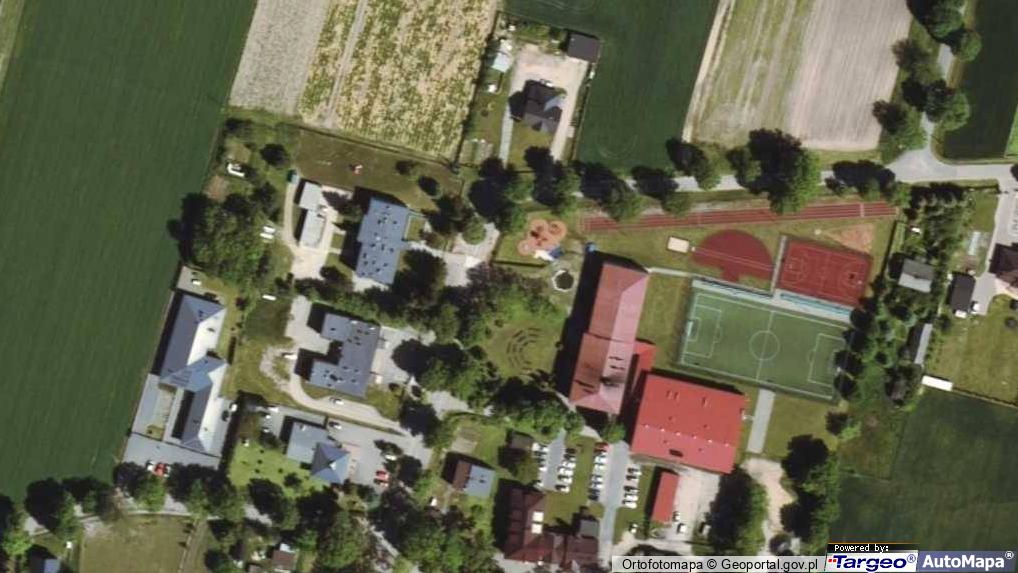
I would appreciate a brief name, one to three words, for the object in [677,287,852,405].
soccer field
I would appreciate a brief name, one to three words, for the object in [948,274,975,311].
building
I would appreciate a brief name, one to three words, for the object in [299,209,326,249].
shed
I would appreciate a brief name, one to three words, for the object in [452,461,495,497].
house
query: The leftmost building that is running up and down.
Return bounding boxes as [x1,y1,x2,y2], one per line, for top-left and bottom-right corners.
[160,295,228,454]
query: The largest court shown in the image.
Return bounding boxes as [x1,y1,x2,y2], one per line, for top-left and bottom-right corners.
[778,238,871,304]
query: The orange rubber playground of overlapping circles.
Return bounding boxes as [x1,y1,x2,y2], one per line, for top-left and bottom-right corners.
[518,220,568,256]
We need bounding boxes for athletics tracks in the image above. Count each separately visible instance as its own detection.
[582,203,898,232]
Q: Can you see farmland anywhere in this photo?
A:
Yes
